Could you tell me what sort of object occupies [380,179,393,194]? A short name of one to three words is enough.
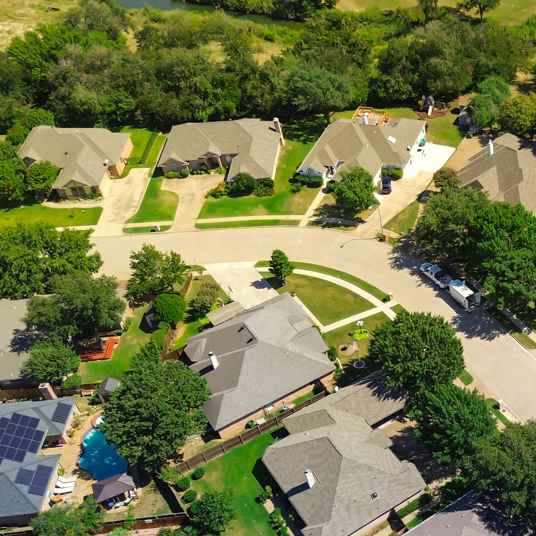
vehicle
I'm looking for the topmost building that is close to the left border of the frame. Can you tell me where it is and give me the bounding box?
[18,124,133,202]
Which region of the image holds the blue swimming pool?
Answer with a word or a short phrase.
bottom left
